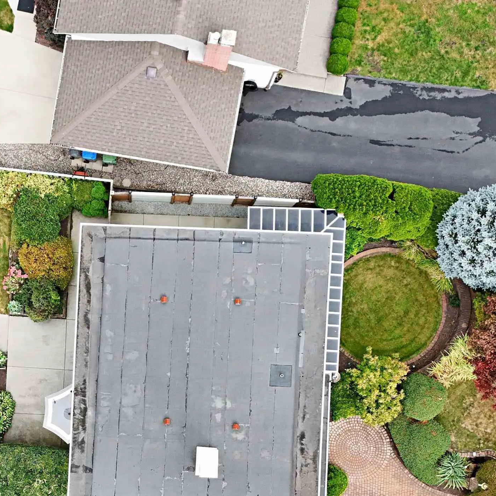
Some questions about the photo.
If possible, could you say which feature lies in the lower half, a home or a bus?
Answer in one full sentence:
It is a home that can be seen in the lower half.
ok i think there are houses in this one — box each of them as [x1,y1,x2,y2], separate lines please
[46,0,311,178]
[66,223,333,496]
